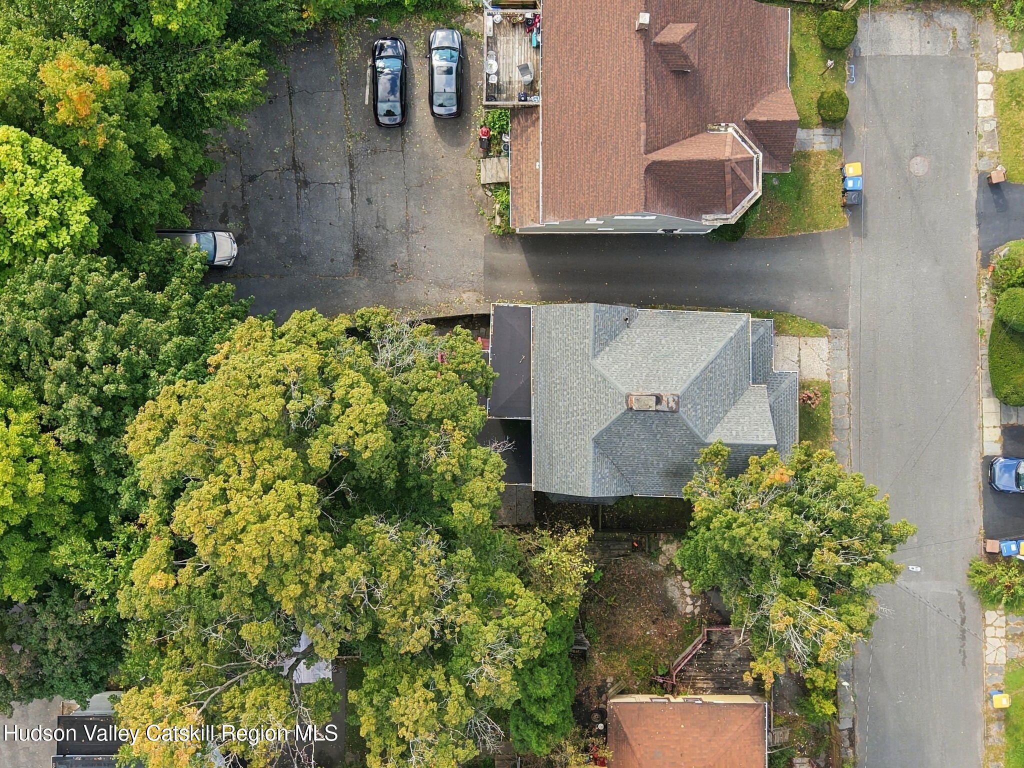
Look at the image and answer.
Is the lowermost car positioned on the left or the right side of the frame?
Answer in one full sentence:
The lowermost car is on the right side of the image.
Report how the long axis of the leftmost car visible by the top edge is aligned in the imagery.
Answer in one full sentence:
The leftmost car visible by the top edge is laid out vertically.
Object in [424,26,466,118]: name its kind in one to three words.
car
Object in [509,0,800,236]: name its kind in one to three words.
house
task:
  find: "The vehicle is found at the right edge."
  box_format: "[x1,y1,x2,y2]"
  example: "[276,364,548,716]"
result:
[990,455,1024,499]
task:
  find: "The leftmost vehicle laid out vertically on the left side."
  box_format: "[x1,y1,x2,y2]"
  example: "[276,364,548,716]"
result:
[367,34,409,126]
